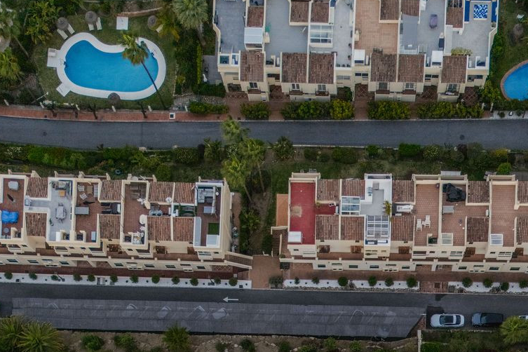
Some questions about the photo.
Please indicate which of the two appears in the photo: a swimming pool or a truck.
swimming pool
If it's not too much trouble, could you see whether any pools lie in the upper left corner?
Yes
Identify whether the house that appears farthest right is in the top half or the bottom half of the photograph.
bottom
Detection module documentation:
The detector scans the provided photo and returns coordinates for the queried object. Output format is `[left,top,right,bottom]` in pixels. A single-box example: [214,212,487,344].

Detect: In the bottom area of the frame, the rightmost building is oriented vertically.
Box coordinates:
[478,179,528,280]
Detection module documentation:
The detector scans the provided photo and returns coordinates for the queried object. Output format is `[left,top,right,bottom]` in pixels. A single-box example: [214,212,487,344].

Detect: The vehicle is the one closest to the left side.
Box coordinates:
[428,311,466,328]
